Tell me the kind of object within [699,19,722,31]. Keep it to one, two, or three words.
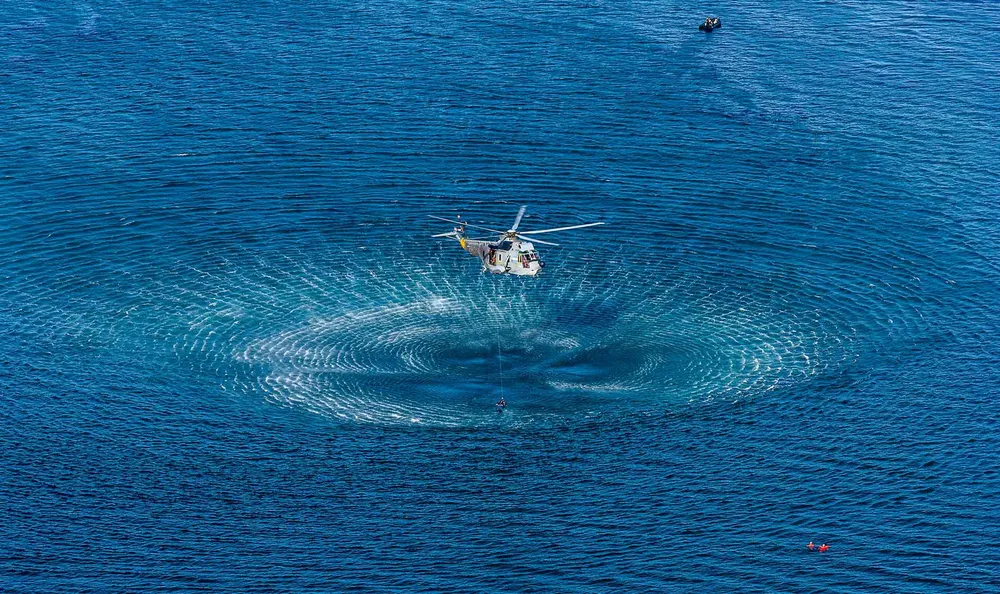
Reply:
boat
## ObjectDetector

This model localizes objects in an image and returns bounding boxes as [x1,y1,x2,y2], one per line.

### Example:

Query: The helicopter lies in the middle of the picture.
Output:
[429,204,604,398]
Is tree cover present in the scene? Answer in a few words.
No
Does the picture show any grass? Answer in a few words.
No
